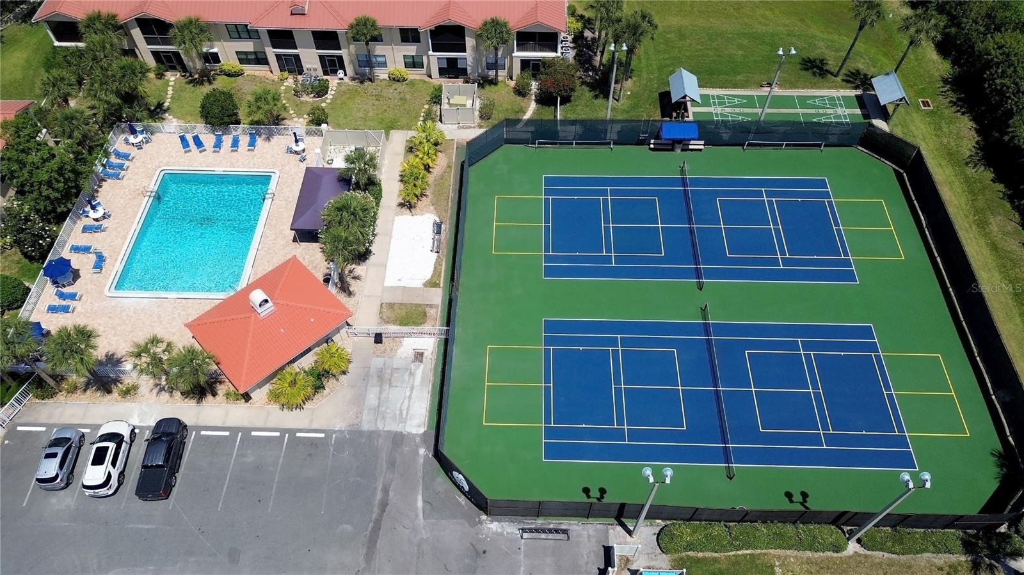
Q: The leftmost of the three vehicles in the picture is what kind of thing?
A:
automobile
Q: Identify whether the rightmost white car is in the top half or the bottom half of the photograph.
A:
bottom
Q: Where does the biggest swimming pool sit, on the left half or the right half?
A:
left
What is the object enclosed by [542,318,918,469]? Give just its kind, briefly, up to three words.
tennis court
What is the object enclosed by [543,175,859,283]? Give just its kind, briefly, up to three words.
tennis court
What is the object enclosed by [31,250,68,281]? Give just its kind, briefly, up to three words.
umbrella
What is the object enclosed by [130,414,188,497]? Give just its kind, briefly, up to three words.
truck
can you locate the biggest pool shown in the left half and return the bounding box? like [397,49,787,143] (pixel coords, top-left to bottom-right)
[104,168,278,298]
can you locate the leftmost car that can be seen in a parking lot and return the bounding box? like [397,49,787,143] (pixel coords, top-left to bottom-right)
[31,426,85,493]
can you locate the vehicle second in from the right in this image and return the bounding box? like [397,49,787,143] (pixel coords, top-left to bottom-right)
[79,421,136,497]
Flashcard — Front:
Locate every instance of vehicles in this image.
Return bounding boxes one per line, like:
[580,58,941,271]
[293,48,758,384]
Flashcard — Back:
[31,426,85,493]
[79,421,136,497]
[130,414,188,497]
